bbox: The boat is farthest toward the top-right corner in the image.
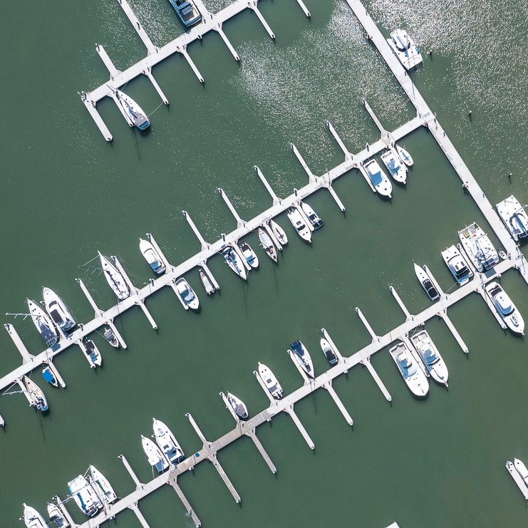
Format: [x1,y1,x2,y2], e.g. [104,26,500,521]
[391,26,431,72]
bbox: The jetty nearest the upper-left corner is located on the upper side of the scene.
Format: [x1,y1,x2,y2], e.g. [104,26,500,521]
[81,0,311,141]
